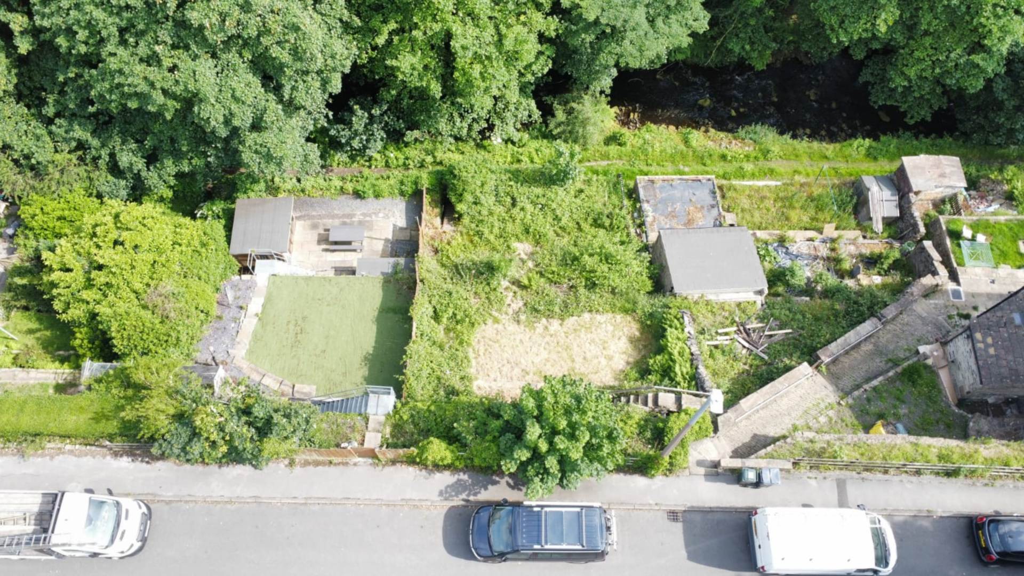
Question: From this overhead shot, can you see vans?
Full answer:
Yes, a van appears in the view.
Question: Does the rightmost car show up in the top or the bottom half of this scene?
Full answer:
The rightmost car is in the bottom half of the image.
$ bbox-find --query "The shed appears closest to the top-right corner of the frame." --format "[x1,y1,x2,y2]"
[888,154,967,212]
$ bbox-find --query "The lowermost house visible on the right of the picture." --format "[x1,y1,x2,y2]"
[938,283,1024,417]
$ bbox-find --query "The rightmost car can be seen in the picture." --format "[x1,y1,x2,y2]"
[972,513,1024,565]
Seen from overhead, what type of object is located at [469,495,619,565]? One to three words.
van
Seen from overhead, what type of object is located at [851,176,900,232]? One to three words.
shed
